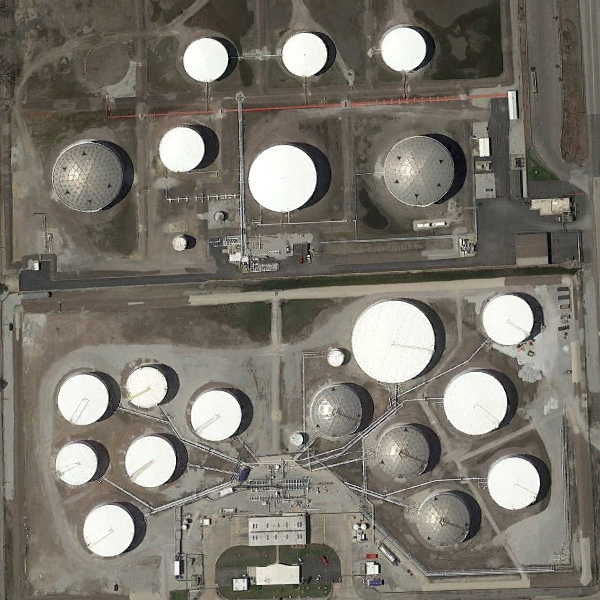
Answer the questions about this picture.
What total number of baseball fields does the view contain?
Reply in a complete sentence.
The count of baseball fields is 0.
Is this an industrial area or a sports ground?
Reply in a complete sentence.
This looks like an industrial area.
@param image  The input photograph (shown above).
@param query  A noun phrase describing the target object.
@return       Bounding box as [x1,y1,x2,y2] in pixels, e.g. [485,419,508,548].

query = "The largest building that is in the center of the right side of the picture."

[516,233,548,265]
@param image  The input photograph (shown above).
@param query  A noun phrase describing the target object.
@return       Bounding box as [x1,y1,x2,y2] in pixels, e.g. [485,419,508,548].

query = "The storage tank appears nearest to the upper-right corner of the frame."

[380,24,428,72]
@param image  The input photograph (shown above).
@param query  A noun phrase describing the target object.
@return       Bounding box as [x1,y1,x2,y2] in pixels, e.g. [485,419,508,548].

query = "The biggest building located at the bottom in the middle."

[249,516,306,546]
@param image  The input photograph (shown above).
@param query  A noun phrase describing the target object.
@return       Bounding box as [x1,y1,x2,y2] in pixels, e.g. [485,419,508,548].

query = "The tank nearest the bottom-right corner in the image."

[486,454,541,512]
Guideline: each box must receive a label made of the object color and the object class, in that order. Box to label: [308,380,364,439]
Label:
gray storage tank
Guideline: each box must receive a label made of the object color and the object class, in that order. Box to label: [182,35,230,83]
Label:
white storage tank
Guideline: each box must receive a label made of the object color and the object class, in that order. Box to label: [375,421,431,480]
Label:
gray storage tank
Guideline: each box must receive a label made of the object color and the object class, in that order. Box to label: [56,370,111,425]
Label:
white storage tank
